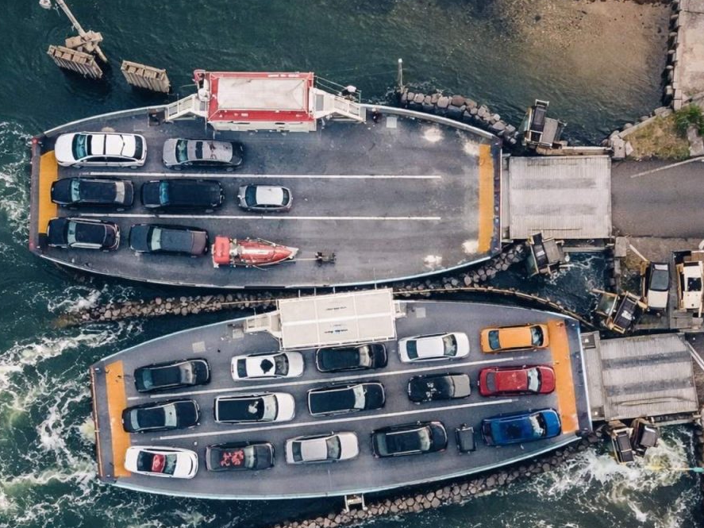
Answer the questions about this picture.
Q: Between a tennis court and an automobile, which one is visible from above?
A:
automobile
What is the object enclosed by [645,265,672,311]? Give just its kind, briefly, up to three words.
car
